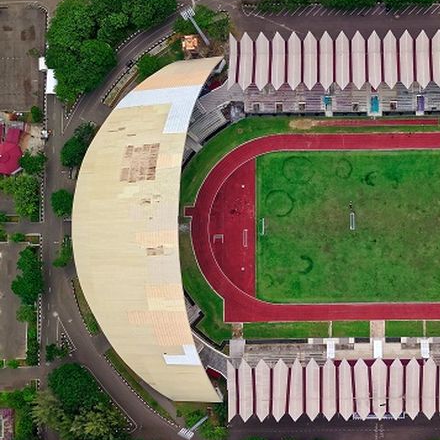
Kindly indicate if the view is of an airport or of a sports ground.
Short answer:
sports ground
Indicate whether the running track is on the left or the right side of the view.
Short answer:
right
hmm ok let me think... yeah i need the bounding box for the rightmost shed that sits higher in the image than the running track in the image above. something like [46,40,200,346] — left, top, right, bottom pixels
[182,34,201,60]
